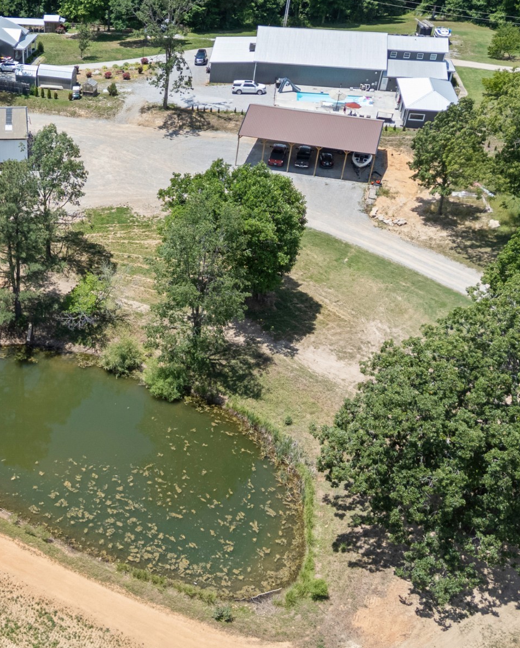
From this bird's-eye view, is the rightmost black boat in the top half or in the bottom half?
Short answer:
top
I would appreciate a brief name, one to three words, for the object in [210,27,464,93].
building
